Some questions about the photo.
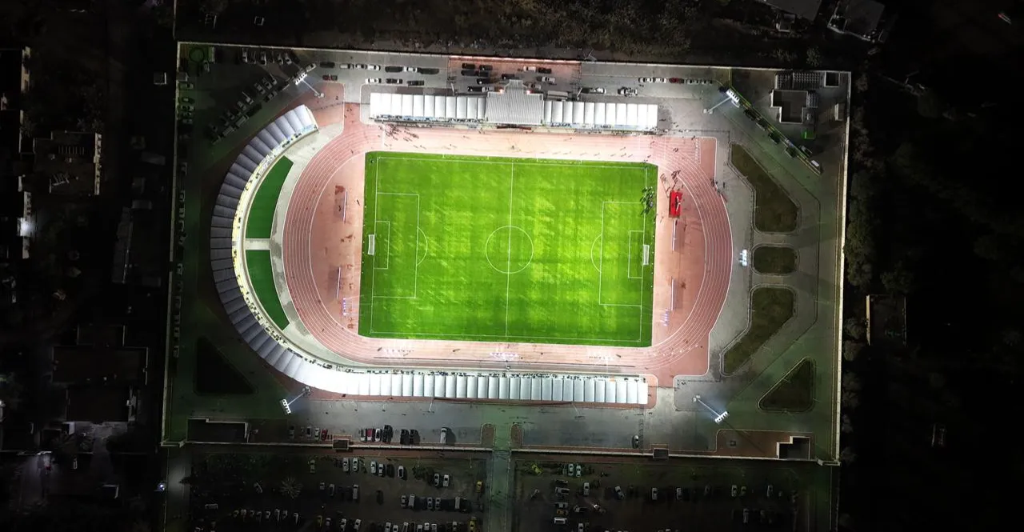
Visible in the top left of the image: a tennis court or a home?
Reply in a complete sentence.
There is a home in the top left of the image.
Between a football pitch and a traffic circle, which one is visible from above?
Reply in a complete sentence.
It is a football pitch that can be seen here.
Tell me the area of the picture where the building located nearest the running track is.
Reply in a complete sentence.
You can find the building located nearest the running track in the top area of the picture.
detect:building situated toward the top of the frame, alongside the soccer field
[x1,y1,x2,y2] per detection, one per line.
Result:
[485,80,543,132]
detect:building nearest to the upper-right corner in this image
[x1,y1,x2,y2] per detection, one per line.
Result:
[824,0,883,40]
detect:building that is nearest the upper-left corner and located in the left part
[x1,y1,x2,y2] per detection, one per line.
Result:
[0,49,40,110]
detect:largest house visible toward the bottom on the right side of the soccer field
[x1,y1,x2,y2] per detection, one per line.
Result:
[863,294,905,346]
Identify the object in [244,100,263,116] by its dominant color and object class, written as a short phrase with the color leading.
black vehicle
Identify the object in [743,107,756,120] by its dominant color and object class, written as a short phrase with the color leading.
black vehicle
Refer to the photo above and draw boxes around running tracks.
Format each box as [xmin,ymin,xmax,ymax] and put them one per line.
[282,120,734,390]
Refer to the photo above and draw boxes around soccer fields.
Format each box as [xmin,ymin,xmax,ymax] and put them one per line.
[358,151,658,347]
